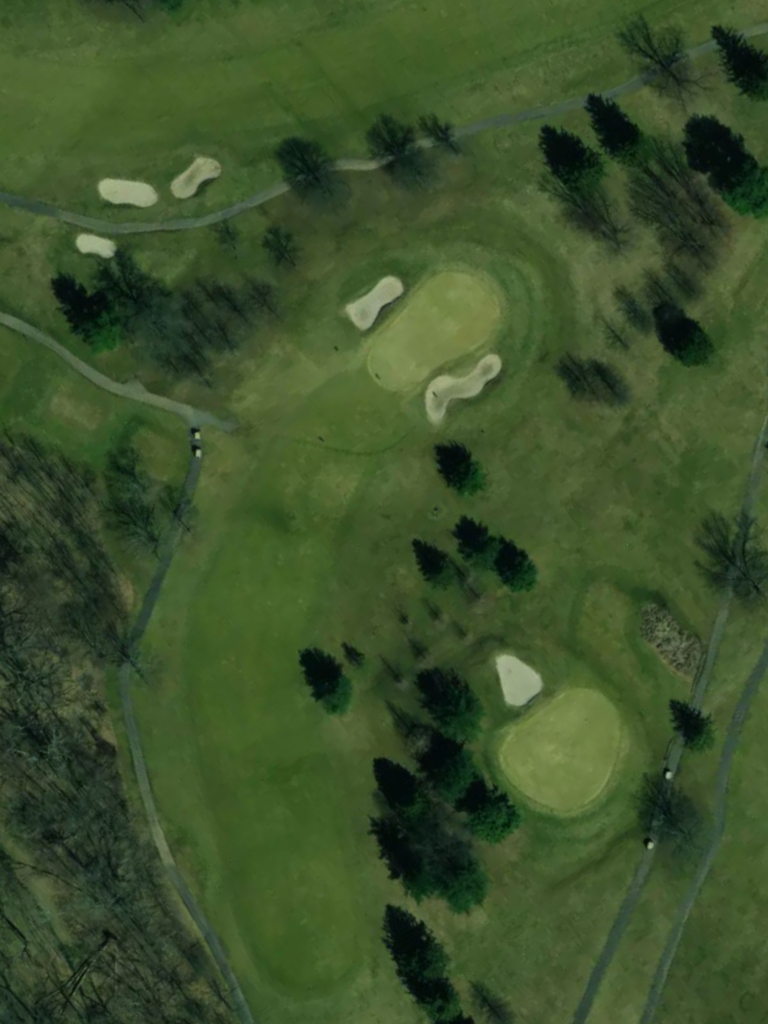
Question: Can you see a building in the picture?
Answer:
No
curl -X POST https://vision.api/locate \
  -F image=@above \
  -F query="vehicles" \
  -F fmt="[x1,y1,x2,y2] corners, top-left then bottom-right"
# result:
[664,769,673,781]
[646,839,654,851]
[194,430,200,441]
[195,447,201,458]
